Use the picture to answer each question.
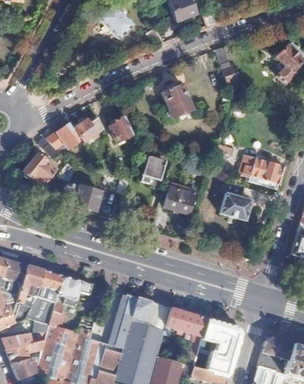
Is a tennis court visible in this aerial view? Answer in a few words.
No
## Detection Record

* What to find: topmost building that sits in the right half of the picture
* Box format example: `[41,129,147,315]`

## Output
[168,0,200,24]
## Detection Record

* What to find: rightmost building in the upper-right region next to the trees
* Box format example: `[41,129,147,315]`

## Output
[276,42,304,82]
